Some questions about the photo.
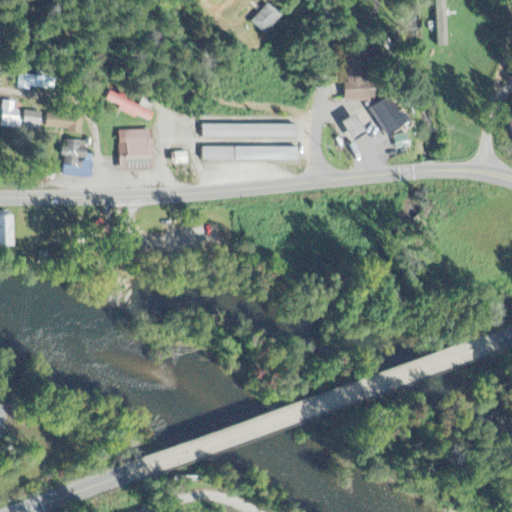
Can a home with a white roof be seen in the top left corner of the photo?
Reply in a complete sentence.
Yes, a home with a white roof can be seen in the top left corner of the photo.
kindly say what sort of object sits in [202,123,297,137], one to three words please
building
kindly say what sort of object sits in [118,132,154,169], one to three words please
house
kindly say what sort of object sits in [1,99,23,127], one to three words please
house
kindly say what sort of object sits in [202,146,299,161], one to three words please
building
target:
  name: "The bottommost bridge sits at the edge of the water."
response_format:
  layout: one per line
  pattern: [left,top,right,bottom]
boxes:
[140,326,512,476]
